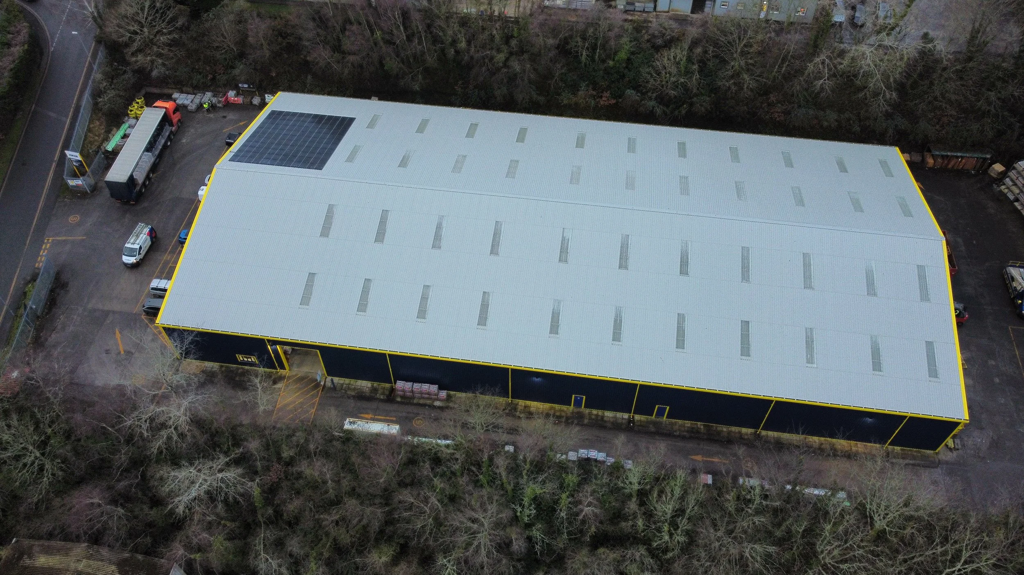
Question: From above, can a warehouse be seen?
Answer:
Yes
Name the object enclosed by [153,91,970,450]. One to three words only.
warehouse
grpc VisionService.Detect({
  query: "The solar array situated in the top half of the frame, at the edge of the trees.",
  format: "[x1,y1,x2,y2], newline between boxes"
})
[229,109,355,169]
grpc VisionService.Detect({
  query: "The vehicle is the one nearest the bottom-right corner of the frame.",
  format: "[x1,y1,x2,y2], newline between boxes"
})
[953,301,967,322]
